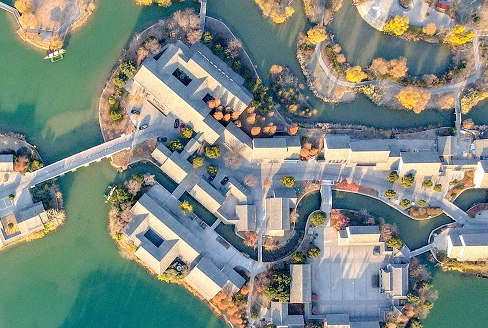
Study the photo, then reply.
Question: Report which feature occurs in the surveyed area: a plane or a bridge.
bridge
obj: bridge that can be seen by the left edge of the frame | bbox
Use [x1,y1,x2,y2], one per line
[17,133,138,192]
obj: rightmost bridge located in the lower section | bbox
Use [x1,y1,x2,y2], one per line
[436,194,475,226]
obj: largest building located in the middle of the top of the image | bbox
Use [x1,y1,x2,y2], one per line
[135,29,255,141]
